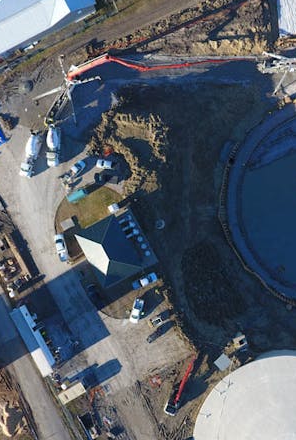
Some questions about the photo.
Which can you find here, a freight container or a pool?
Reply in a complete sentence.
There is a freight container in the scene.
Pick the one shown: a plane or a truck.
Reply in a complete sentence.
Visible in the photo is a truck.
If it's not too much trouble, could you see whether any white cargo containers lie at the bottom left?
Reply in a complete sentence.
Yes, a white cargo container is visible at the bottom left.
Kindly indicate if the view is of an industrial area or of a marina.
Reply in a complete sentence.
What you see here is an industrial area.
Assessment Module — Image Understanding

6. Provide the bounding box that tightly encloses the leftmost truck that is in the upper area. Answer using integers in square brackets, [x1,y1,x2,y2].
[17,130,42,177]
